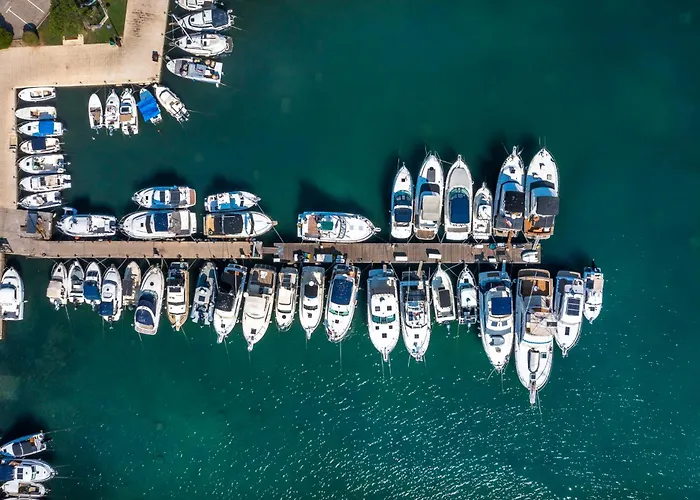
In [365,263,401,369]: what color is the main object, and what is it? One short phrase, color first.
white boat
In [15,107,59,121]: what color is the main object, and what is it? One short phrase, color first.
white boat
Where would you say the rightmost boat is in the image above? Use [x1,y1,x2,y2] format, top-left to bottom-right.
[582,260,605,322]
